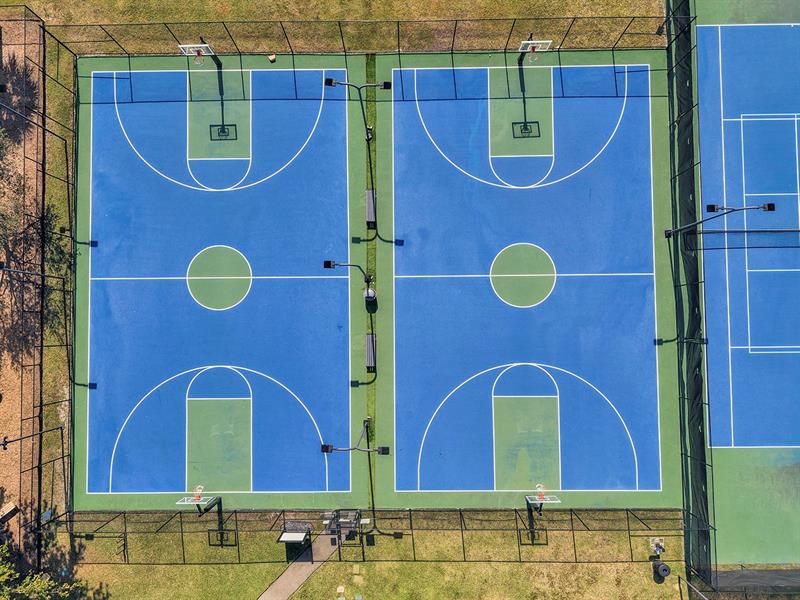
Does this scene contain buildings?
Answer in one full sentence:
No, I find no building anywhere in the image.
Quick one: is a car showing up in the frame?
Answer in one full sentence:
No, I can see no car in this picture.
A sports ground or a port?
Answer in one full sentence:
It's a sports ground.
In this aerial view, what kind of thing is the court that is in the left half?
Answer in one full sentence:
The court that is in the left half appears to be a basketball court.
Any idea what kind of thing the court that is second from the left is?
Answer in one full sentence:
In the photo, the court that is second from the left shows up as a basketball court.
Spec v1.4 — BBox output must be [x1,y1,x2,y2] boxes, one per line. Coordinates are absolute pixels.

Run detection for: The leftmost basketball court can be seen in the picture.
[70,52,369,509]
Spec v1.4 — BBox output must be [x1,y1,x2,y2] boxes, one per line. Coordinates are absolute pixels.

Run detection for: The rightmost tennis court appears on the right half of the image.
[666,0,800,564]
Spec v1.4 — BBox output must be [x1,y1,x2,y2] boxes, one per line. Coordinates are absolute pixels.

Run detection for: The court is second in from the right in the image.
[375,49,682,508]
